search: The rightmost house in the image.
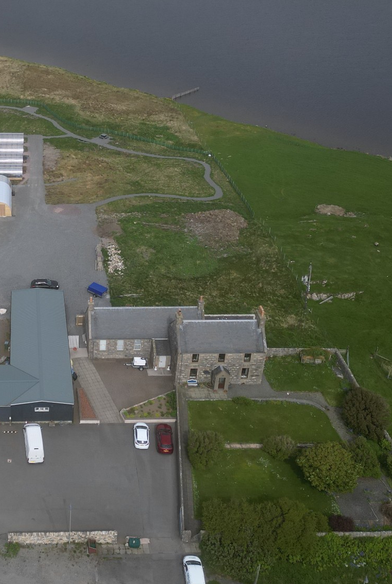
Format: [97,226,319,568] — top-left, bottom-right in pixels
[172,305,269,394]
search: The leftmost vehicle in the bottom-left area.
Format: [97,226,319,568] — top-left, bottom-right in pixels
[24,427,44,463]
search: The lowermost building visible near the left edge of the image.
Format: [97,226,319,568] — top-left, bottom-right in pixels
[0,284,74,423]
